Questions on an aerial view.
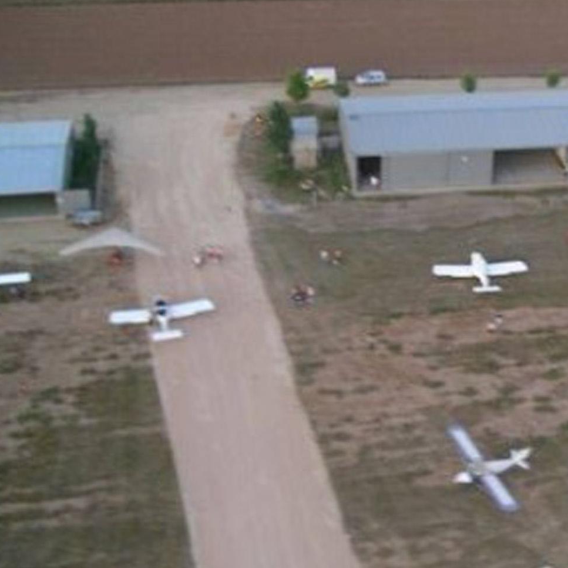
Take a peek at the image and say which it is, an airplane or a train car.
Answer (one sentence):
The image shows an airplane.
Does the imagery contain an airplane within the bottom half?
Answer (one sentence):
Yes, looking within the bottom half, one can make out an airplane.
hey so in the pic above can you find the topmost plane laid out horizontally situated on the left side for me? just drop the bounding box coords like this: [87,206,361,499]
[58,230,162,270]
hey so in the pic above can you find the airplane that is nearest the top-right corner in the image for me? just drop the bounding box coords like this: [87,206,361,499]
[432,253,528,291]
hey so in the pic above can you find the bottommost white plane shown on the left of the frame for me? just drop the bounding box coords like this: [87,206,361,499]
[107,294,216,337]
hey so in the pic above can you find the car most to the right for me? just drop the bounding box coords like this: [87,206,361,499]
[357,72,387,85]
